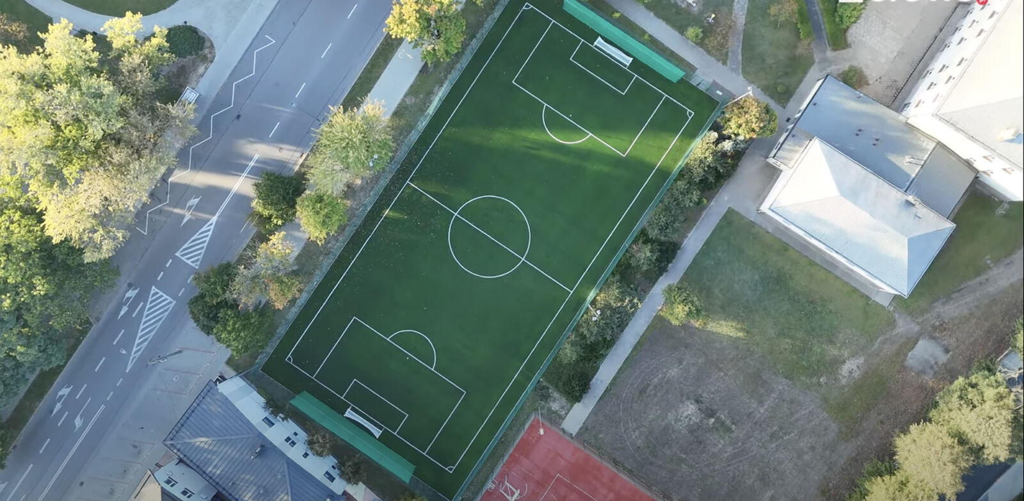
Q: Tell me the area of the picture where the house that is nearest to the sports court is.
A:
bottom left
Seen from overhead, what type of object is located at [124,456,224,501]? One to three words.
house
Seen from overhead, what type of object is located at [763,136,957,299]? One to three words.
building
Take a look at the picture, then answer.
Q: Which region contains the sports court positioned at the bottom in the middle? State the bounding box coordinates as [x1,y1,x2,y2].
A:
[471,406,668,501]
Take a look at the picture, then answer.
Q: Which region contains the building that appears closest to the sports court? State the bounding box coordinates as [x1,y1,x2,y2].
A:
[162,371,361,501]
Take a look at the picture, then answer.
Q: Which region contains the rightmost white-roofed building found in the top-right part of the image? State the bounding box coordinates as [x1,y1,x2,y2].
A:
[907,0,1024,198]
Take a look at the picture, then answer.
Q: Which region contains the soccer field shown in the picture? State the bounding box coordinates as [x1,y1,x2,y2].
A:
[261,0,719,499]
